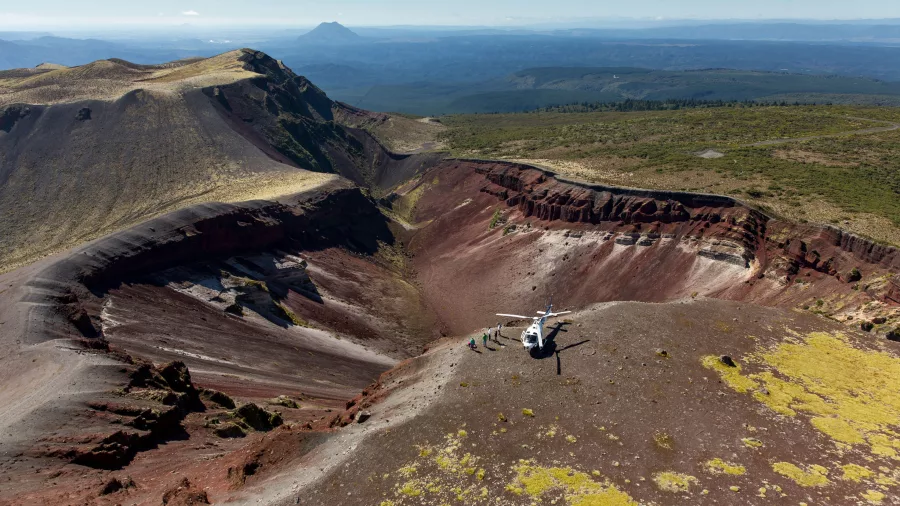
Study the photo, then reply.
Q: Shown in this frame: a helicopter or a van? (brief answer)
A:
helicopter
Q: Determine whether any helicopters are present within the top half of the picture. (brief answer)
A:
No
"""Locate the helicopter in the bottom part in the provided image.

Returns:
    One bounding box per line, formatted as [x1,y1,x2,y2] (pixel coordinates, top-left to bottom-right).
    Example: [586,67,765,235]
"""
[497,299,569,350]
